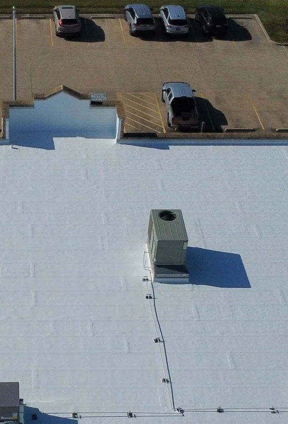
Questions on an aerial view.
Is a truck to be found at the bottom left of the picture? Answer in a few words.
No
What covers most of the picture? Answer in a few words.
buildings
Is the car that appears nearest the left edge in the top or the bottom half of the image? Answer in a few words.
top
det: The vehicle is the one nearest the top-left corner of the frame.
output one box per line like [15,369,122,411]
[52,1,81,32]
